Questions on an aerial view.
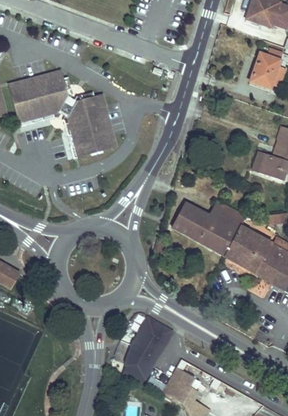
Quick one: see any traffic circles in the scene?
Yes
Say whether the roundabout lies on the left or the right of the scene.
left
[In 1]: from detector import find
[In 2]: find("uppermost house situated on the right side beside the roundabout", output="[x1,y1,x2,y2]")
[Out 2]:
[172,198,244,256]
